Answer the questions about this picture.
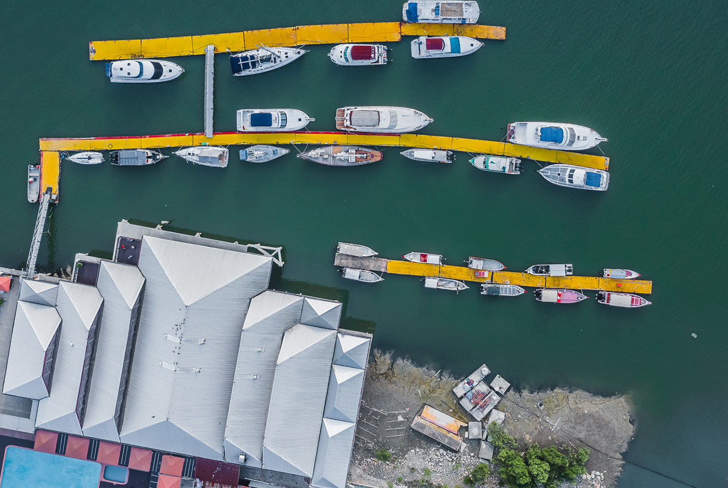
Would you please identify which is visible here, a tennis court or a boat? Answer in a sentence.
The image shows a boat.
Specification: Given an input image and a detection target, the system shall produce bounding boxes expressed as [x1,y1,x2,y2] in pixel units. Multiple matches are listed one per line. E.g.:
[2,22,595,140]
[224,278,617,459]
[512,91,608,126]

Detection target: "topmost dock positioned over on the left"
[90,22,401,61]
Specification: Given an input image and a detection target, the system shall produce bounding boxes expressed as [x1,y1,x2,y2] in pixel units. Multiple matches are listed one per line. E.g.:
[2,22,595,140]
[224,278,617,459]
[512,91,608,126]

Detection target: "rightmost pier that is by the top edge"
[402,22,506,40]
